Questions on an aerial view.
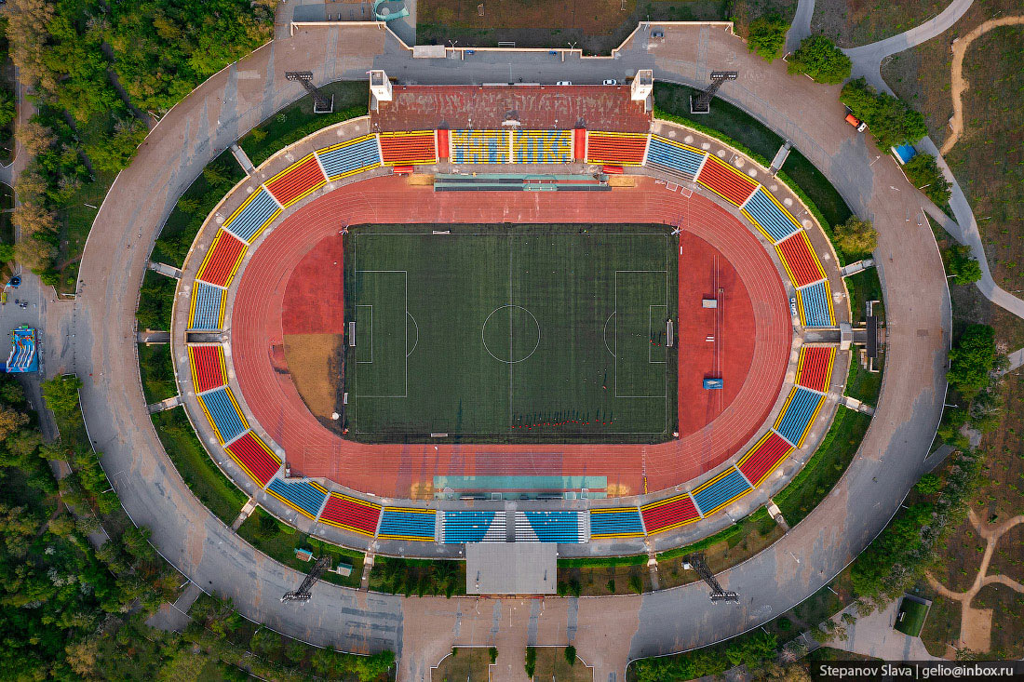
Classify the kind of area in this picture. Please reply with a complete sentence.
The picture captures a sports ground.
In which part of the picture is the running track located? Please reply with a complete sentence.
The running track sits in the center section of the image.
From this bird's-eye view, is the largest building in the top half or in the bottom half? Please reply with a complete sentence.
Seen from above, the largest building lies in the bottom half of the view.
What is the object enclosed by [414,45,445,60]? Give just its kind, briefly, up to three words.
shed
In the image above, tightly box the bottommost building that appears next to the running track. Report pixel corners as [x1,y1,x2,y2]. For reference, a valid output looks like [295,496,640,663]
[466,540,557,600]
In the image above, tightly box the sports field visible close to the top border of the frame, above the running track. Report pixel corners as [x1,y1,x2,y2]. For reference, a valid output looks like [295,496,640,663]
[416,0,732,49]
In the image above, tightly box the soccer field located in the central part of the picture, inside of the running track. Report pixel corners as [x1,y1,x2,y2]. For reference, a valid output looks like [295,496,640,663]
[344,224,678,444]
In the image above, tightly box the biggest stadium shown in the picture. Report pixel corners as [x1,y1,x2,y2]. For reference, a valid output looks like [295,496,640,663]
[170,115,852,560]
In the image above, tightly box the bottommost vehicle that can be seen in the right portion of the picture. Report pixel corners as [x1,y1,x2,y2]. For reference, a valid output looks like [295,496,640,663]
[845,110,867,130]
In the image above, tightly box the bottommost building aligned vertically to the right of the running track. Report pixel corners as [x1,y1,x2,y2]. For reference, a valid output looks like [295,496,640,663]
[866,300,881,373]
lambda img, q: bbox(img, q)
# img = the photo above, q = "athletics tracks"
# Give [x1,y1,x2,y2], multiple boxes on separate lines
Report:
[232,173,792,500]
